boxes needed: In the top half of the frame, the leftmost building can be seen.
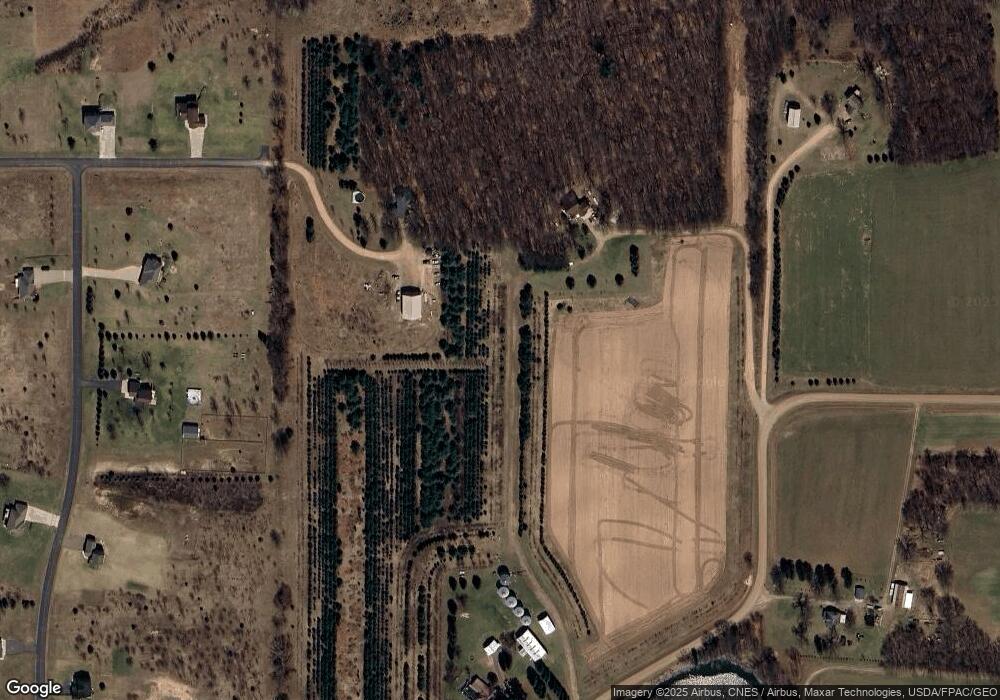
[16,266,34,293]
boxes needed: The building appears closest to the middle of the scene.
[402,291,422,318]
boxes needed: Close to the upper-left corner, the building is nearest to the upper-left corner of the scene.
[85,108,115,131]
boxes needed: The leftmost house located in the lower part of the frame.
[3,500,29,529]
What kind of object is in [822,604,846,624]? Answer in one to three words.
house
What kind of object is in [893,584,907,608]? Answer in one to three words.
barn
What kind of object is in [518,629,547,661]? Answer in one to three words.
barn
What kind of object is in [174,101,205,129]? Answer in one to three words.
house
